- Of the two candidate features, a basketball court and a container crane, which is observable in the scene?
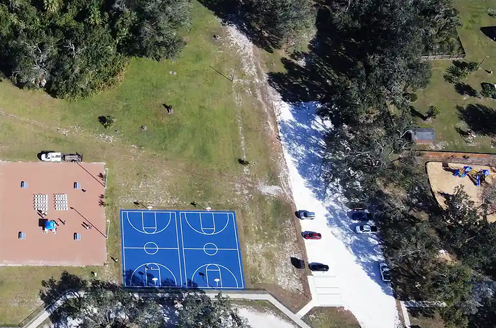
basketball court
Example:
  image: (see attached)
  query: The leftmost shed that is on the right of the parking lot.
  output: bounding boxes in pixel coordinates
[411,127,438,144]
